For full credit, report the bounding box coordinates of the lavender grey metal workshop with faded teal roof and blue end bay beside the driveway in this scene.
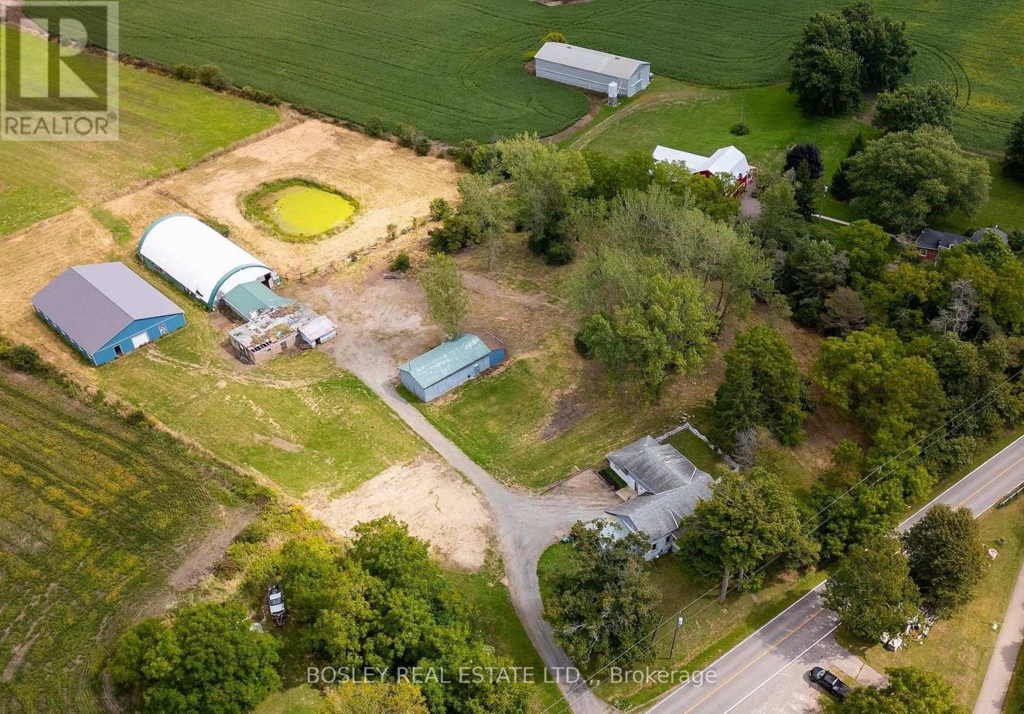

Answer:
[397,333,506,404]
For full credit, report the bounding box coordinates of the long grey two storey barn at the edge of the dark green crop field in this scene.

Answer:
[534,42,653,98]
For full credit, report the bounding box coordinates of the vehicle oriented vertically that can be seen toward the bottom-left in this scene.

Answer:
[268,584,285,623]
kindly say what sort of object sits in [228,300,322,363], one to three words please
building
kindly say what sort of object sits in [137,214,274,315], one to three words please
barn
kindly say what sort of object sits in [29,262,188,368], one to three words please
barn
